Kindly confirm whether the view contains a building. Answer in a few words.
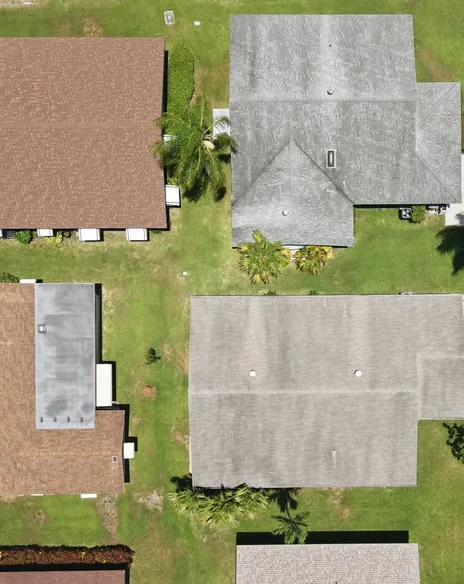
Yes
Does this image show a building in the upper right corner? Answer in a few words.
Yes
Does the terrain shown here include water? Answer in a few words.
No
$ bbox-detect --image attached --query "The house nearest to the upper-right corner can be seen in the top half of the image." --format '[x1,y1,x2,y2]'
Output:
[228,15,462,248]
